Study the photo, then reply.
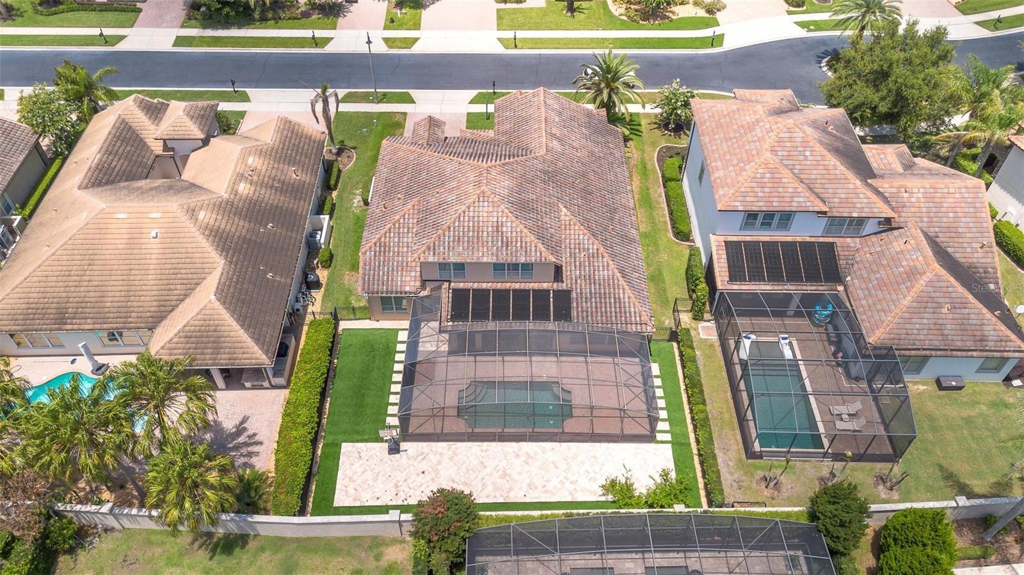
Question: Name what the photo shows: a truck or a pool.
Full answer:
It is a pool that can be seen here.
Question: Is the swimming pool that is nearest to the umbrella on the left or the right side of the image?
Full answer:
The swimming pool that is nearest to the umbrella is on the left side of the image.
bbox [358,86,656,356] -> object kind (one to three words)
house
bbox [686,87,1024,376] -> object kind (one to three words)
house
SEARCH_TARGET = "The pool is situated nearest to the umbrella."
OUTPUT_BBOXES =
[8,367,155,439]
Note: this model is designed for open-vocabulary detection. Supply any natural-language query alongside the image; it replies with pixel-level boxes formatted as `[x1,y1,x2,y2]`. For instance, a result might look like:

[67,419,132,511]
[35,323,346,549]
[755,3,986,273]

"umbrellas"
[82,347,113,377]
